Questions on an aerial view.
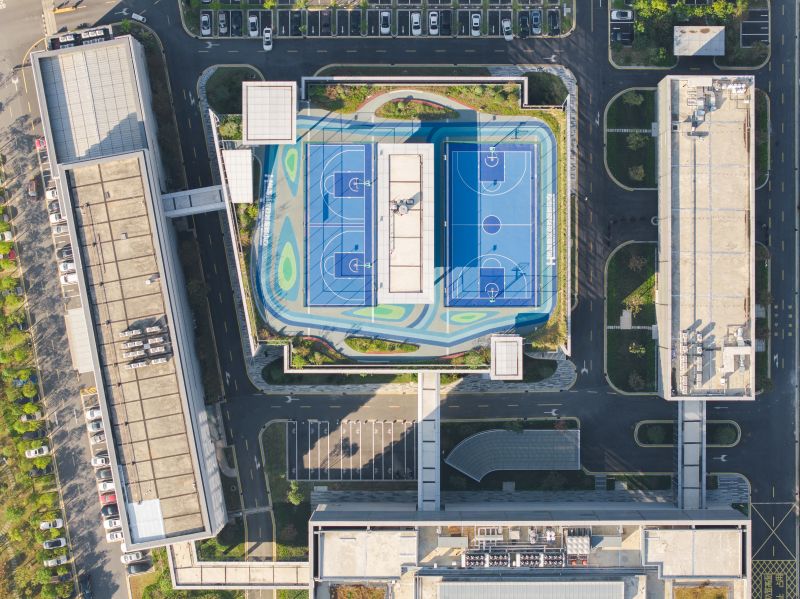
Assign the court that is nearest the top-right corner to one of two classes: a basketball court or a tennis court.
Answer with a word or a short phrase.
basketball court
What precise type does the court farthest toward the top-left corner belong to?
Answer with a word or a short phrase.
basketball court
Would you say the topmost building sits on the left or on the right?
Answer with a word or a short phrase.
right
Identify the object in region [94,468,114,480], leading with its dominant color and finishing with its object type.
gray vehicle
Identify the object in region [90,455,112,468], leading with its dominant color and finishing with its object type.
white vehicle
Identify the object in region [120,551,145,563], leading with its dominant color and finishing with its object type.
white vehicle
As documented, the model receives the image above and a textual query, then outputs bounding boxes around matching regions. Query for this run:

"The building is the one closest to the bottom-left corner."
[52,150,224,551]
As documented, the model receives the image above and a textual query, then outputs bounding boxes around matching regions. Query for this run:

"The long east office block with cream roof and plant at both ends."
[657,75,755,401]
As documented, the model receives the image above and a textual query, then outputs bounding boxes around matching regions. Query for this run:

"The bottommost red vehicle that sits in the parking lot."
[97,491,118,504]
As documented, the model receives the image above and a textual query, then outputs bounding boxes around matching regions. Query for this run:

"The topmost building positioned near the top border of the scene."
[673,26,726,55]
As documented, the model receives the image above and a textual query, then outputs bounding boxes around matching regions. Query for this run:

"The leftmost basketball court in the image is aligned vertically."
[306,143,378,306]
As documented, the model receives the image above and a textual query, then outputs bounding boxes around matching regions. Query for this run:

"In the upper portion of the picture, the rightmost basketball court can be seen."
[444,141,541,307]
